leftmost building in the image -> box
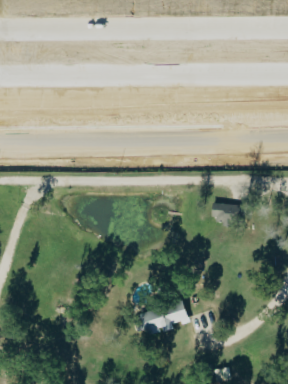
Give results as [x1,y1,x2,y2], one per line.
[144,301,190,331]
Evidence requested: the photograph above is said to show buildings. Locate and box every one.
[212,201,240,230]
[144,301,190,331]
